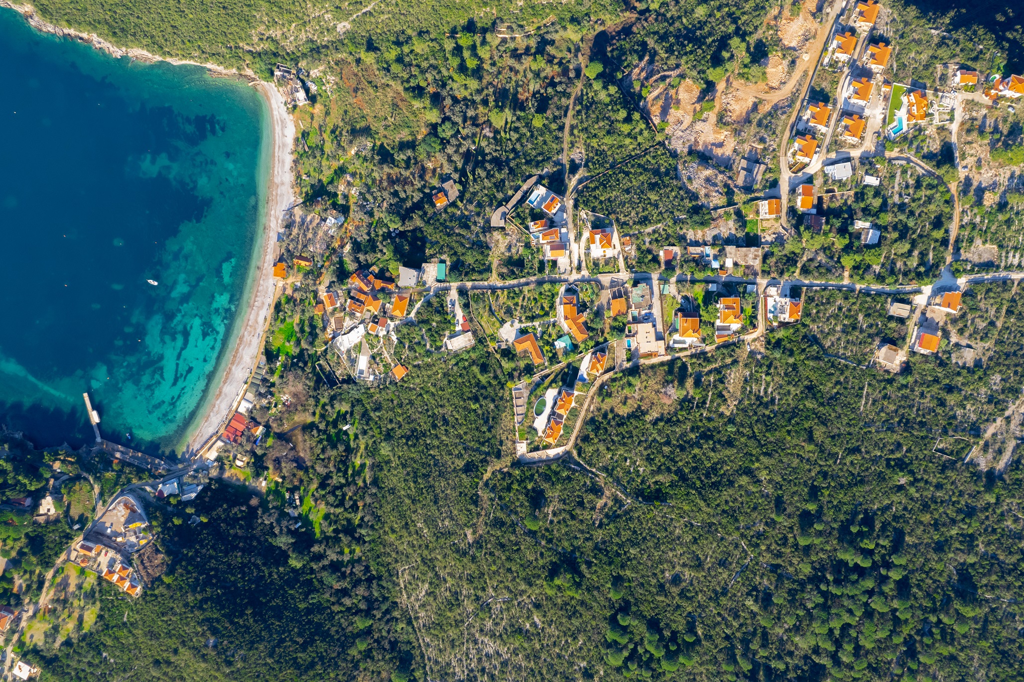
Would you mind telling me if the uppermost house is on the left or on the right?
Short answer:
right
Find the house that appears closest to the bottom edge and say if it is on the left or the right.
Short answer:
left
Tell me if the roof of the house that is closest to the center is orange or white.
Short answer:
orange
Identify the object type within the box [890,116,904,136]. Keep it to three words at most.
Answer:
swimming pool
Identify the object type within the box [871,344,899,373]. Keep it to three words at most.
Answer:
house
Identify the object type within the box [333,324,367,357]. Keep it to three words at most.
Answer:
house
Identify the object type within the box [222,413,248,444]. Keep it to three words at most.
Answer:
building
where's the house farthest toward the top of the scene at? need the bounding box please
[844,0,880,34]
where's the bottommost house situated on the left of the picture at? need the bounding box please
[13,659,36,680]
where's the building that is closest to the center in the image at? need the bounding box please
[513,335,543,365]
